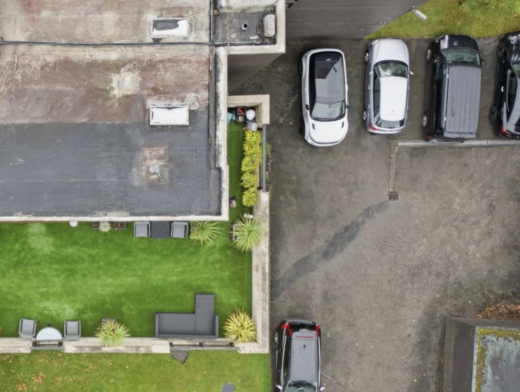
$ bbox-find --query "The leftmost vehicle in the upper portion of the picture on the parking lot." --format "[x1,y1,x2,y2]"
[298,49,353,149]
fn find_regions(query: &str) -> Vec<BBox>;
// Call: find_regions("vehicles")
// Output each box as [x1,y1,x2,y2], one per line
[484,31,520,140]
[273,318,325,392]
[298,49,353,149]
[358,39,414,136]
[420,36,483,143]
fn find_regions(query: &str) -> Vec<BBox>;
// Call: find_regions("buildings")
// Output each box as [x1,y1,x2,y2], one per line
[0,0,427,353]
[440,319,520,392]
